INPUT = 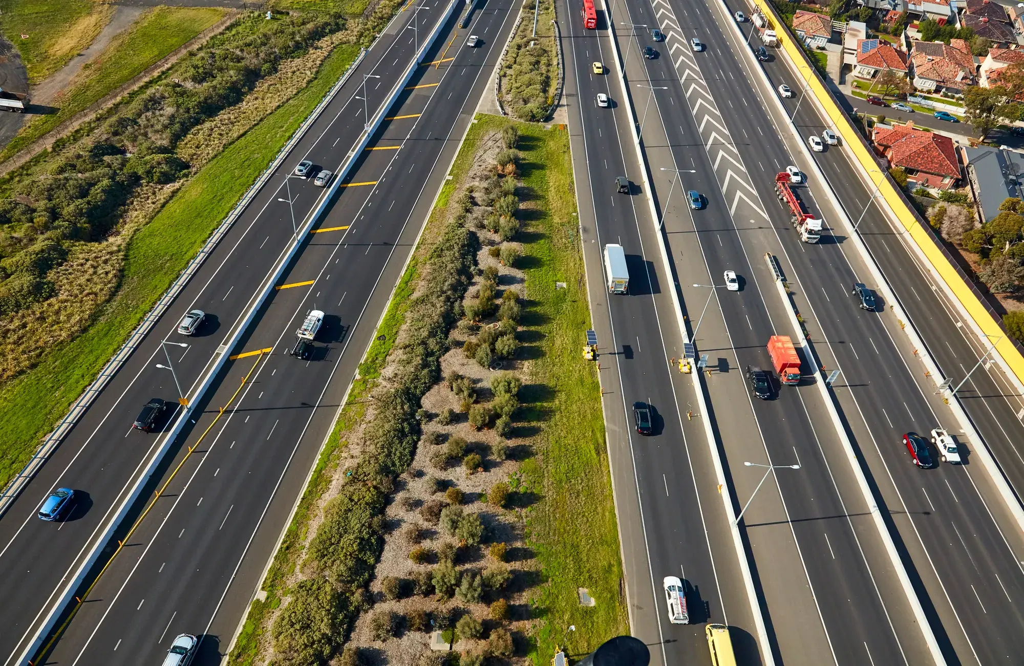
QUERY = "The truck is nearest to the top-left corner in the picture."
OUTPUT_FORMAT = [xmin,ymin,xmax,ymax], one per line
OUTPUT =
[0,92,31,115]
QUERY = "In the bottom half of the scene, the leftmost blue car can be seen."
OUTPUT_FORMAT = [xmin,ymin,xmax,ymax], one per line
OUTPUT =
[34,486,75,525]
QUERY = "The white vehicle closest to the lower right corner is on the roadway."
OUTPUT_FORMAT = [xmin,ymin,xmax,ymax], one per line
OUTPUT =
[930,428,961,466]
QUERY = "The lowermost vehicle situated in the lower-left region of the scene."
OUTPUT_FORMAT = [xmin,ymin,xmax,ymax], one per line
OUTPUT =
[161,629,200,666]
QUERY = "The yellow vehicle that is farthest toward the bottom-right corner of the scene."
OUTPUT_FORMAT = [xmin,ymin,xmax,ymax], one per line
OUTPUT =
[709,629,744,666]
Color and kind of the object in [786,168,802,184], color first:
white car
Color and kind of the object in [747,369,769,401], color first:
black truck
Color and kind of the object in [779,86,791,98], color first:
white vehicle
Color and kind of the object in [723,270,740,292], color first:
white car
